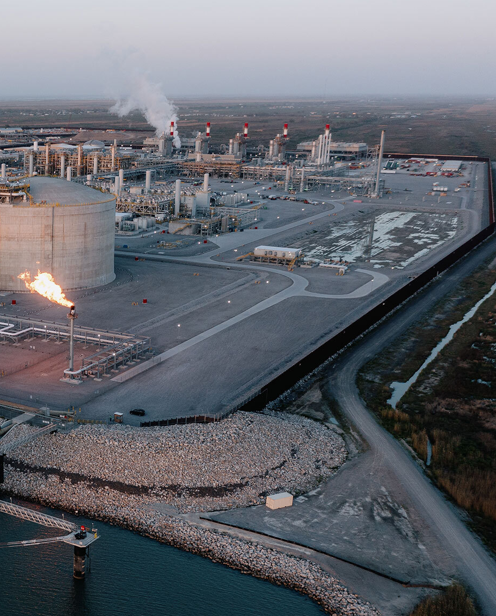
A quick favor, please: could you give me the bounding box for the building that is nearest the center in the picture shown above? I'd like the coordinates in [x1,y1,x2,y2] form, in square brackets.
[242,243,301,266]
